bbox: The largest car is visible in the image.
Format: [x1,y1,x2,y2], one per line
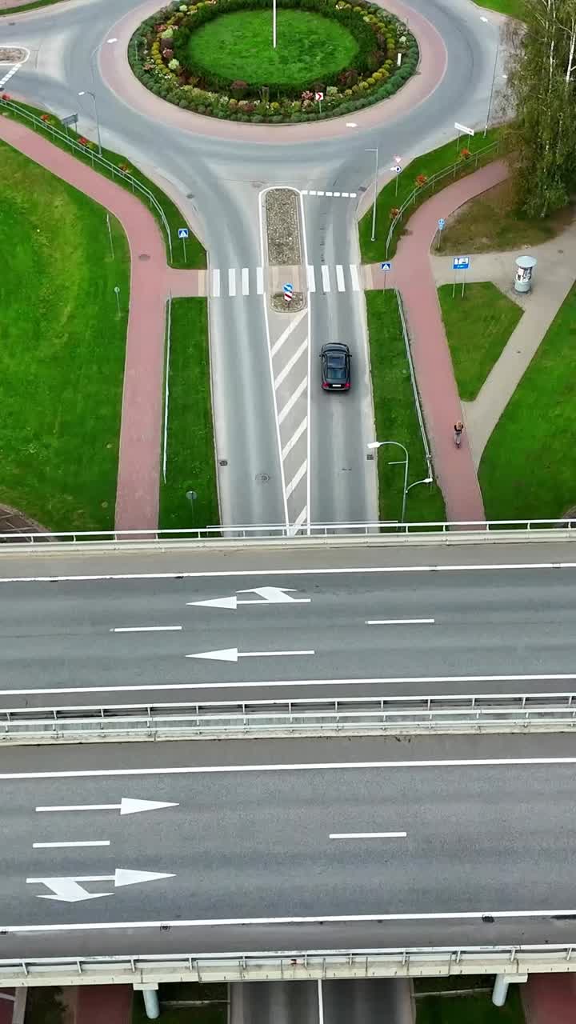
[319,339,352,390]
